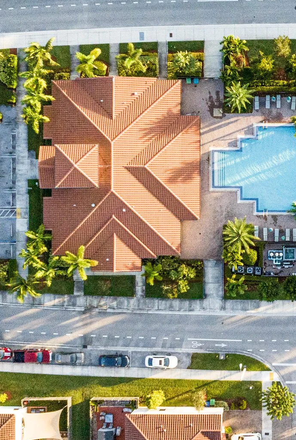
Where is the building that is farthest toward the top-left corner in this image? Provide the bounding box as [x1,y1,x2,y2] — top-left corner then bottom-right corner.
[36,73,201,272]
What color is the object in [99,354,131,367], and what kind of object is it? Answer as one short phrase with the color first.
blue vehicle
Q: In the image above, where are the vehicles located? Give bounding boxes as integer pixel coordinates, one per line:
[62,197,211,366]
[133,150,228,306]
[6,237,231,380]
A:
[99,354,131,367]
[145,355,178,369]
[0,346,14,360]
[13,348,54,364]
[56,352,85,364]
[232,433,262,440]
